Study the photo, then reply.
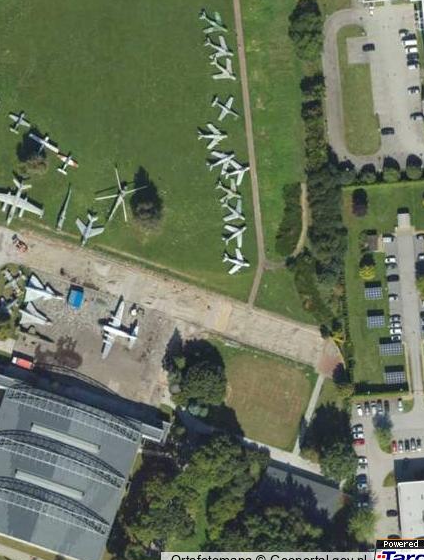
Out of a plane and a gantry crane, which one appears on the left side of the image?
plane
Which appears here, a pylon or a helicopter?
helicopter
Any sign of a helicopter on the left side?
Yes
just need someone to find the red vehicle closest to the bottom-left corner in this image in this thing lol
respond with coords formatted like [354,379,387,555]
[13,357,35,371]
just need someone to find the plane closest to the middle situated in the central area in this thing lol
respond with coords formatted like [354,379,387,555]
[223,248,250,274]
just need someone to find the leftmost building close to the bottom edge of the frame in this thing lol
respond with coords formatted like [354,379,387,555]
[0,377,171,560]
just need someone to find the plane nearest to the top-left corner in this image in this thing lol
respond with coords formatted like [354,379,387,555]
[9,111,30,133]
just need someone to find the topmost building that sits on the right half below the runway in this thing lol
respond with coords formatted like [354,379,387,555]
[254,464,344,518]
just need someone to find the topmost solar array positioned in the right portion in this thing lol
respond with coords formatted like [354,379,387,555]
[365,287,382,300]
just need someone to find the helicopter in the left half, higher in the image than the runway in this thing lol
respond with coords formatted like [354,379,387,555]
[95,167,146,221]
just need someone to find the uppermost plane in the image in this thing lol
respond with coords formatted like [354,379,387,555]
[201,10,228,33]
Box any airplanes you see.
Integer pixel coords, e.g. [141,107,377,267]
[103,301,140,361]
[201,10,228,33]
[223,248,250,274]
[18,304,52,327]
[207,151,235,175]
[223,226,246,248]
[29,133,60,156]
[209,56,236,80]
[212,96,239,121]
[215,178,241,202]
[58,184,73,231]
[197,123,228,150]
[18,326,53,340]
[220,198,245,221]
[1,265,27,291]
[76,212,104,246]
[56,154,77,173]
[203,34,234,59]
[0,182,45,225]
[9,111,30,133]
[223,161,250,186]
[26,278,66,307]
